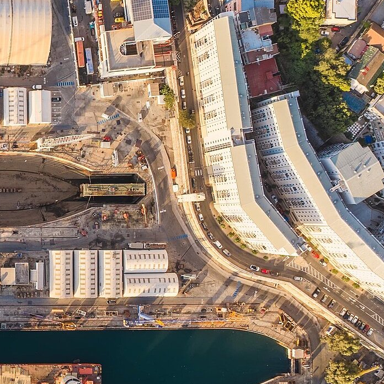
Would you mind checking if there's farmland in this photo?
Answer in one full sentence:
No, farmland can't be seen anywhere here.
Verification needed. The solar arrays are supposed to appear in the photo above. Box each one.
[137,0,152,22]
[152,0,170,18]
